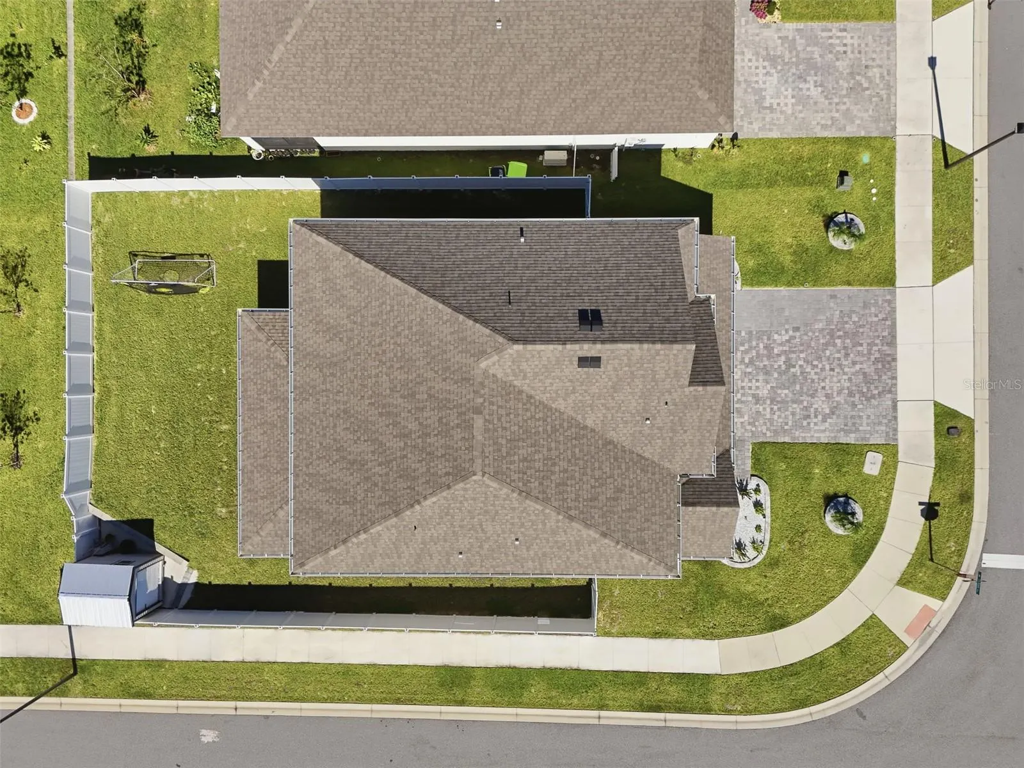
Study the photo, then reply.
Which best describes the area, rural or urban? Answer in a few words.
urban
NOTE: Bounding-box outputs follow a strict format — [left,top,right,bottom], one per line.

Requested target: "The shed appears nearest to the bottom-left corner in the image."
[56,553,162,627]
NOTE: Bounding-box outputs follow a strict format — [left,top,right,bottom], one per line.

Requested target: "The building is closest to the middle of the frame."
[238,217,742,579]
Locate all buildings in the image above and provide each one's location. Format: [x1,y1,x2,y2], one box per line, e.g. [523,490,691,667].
[238,217,742,579]
[56,553,162,627]
[219,0,736,152]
